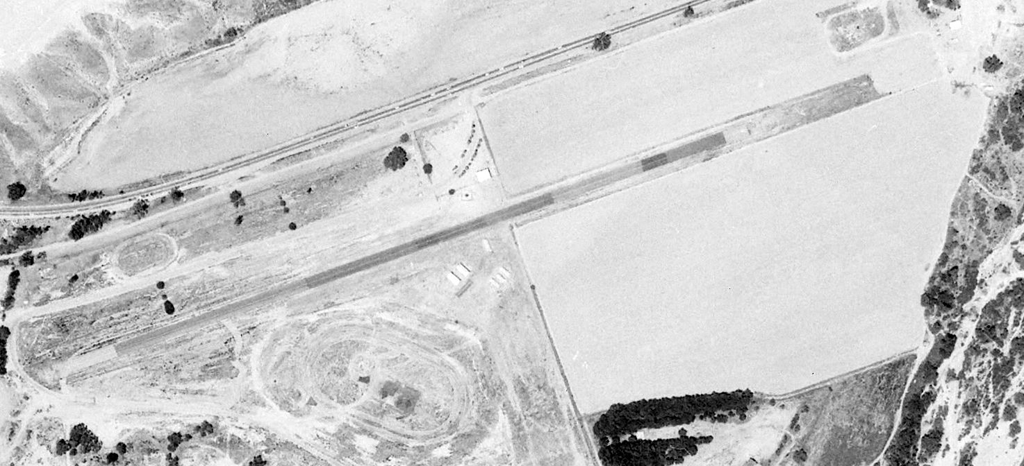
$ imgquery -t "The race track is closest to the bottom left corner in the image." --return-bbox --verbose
[115,233,180,276]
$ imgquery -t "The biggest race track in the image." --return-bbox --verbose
[304,323,467,446]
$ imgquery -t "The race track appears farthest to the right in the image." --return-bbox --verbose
[823,2,891,57]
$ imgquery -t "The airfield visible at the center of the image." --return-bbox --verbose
[67,75,889,383]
